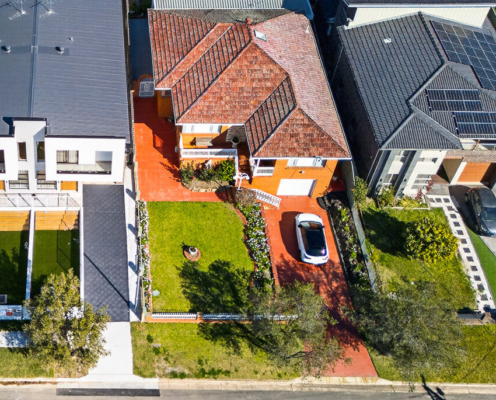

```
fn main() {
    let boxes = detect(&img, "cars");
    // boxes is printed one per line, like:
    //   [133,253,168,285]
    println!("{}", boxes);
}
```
[469,185,496,240]
[291,208,328,263]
